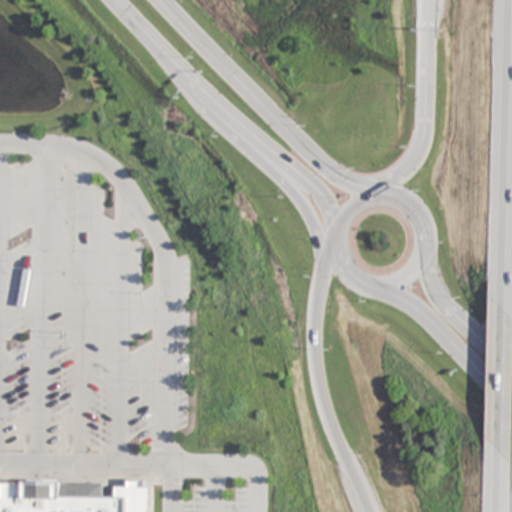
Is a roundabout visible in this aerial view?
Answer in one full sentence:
Yes, there's a roundabout here.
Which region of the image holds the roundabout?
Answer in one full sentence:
The roundabout appears toward the right of the photo.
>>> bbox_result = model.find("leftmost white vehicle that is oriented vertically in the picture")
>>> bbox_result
[18,260,32,306]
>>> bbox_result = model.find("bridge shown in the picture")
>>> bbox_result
[484,267,512,455]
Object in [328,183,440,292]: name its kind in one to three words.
roundabout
